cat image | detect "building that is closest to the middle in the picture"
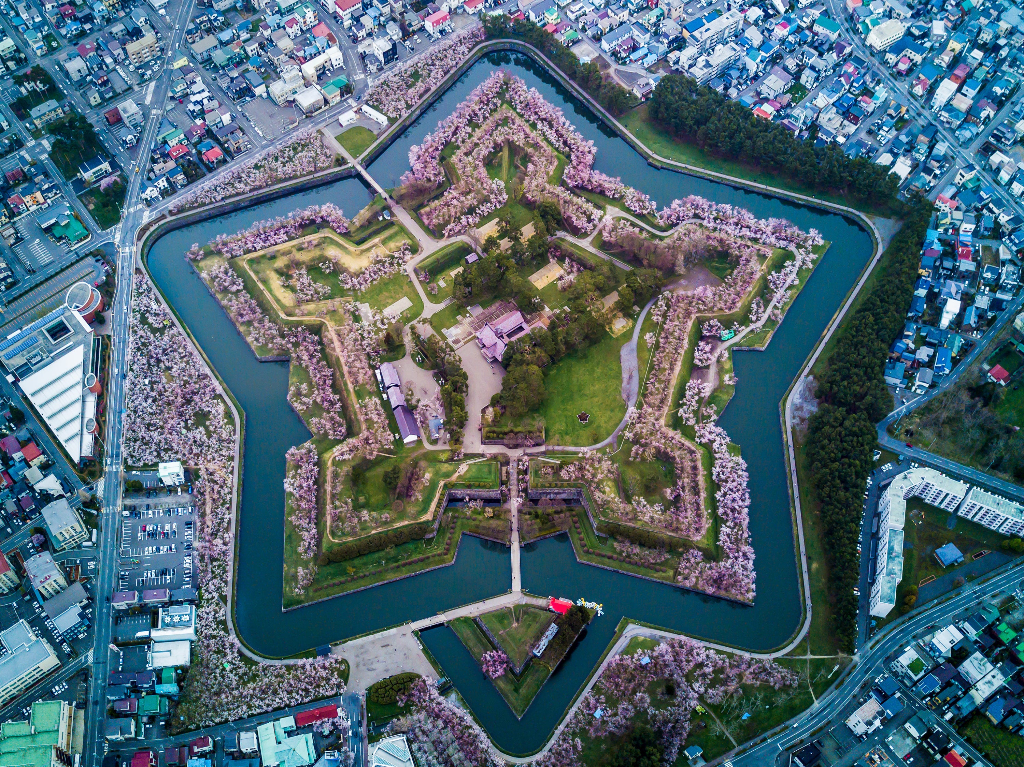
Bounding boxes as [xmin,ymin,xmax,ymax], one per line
[470,307,543,371]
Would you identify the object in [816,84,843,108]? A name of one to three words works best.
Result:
house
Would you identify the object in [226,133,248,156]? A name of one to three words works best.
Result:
building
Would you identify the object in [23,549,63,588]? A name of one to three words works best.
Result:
building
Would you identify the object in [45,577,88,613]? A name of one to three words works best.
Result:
house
